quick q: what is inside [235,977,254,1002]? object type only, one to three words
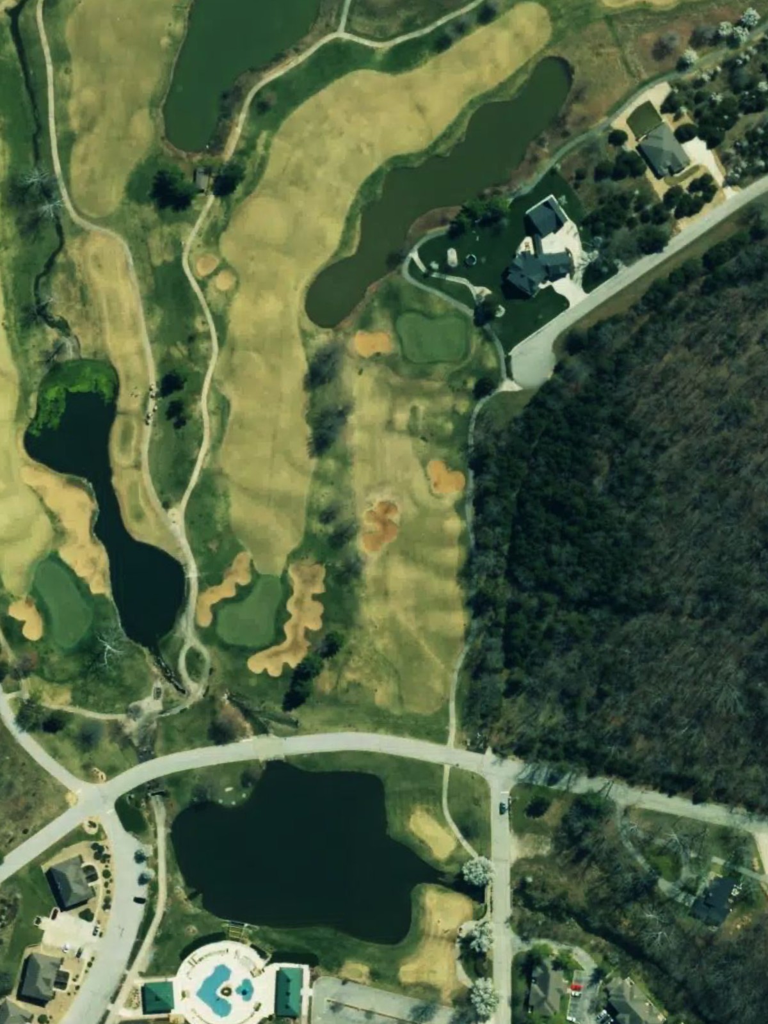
swimming pool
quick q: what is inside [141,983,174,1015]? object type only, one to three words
building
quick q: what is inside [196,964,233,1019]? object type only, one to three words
swimming pool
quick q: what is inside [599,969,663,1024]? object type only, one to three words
house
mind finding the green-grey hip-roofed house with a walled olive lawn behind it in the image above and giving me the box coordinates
[639,121,693,179]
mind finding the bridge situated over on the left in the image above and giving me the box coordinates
[252,732,292,762]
